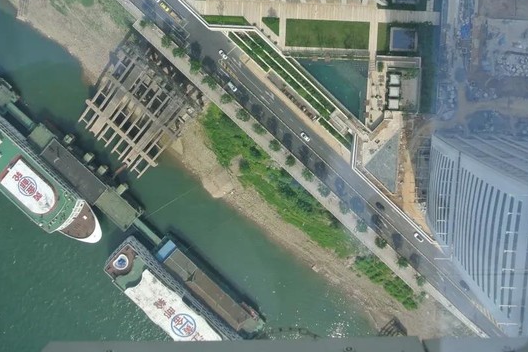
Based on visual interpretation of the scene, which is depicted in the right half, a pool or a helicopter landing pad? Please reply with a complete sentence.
It is a pool that can be seen in the right half.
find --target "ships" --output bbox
[101,228,259,340]
[0,114,107,241]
